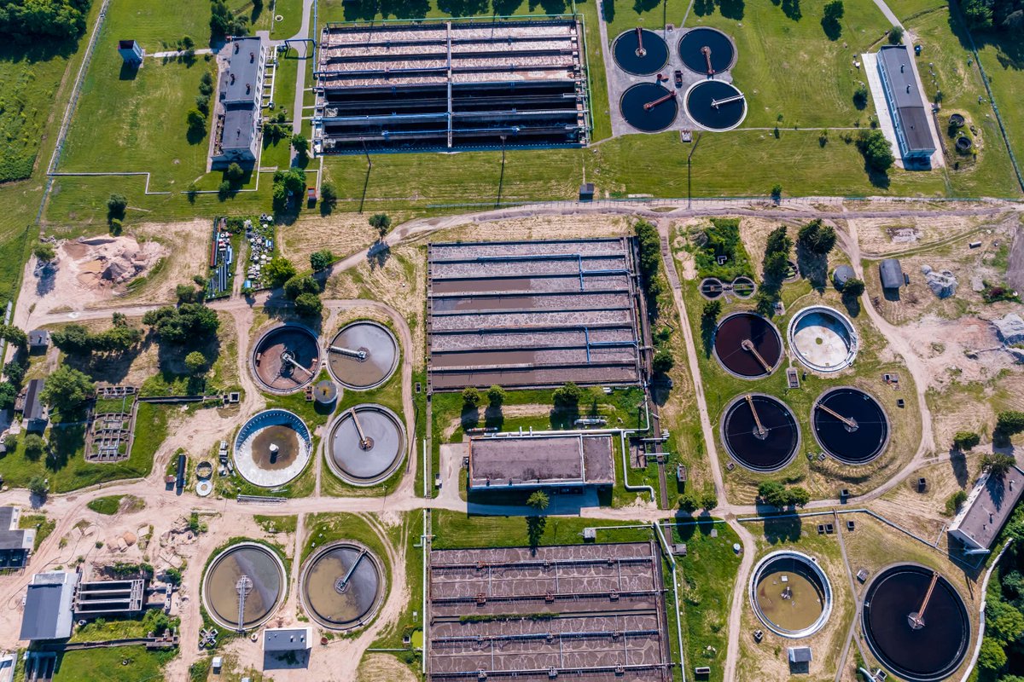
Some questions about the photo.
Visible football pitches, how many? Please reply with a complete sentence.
The picture shows no football pitches.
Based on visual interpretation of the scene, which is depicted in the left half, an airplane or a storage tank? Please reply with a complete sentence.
You can see a storage tank in the left half.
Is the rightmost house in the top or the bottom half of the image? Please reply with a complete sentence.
The rightmost house is in the bottom half of the image.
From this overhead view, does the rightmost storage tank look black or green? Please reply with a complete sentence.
The rightmost storage tank looks black in the image.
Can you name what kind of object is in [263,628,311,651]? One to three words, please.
shed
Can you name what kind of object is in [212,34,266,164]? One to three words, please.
building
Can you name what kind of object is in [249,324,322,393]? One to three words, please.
storage tank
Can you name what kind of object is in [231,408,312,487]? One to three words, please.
storage tank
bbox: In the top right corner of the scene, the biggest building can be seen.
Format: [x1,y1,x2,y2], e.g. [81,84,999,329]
[875,41,935,158]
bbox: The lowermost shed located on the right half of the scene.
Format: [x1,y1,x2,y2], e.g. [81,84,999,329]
[788,647,812,662]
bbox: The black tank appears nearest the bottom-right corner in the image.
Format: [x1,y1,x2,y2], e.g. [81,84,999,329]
[861,565,974,682]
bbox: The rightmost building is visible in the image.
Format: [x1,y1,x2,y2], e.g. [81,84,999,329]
[948,465,1024,555]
